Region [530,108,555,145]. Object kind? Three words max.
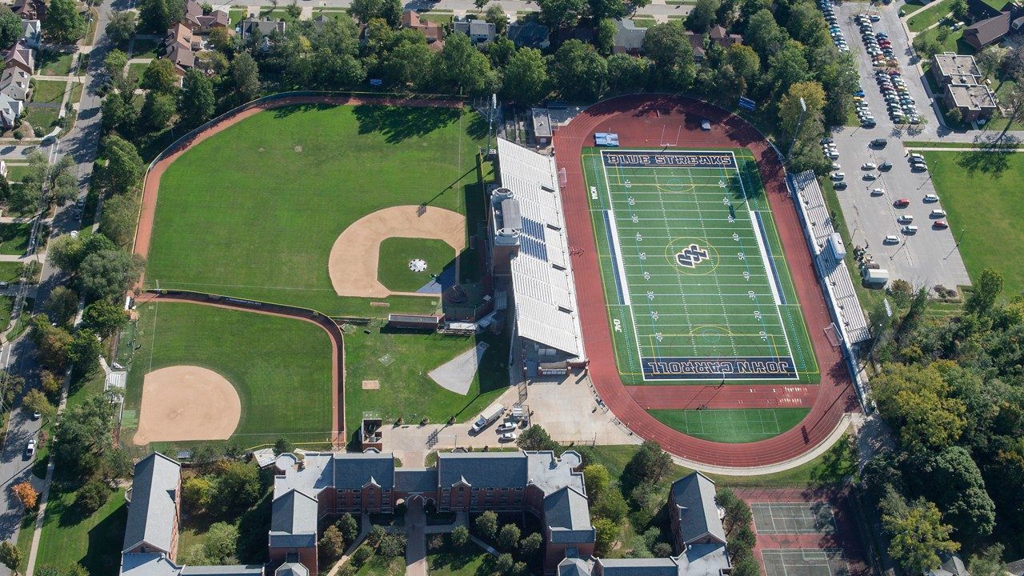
building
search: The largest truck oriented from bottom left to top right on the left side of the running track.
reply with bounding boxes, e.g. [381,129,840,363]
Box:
[475,403,502,427]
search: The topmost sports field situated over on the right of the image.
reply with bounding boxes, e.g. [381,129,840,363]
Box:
[580,145,822,386]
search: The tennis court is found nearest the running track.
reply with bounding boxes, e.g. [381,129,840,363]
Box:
[748,500,842,536]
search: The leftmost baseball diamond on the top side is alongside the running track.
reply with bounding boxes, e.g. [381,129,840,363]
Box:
[133,94,490,318]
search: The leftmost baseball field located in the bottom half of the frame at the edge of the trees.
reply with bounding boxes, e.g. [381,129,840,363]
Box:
[116,294,345,454]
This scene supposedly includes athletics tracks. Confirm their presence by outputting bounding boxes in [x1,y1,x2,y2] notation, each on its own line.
[557,94,849,467]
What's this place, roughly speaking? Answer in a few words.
sports ground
